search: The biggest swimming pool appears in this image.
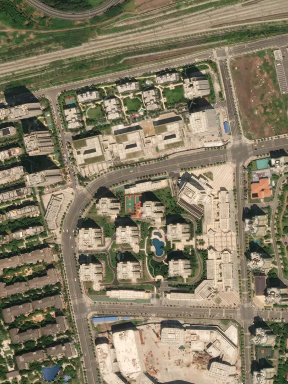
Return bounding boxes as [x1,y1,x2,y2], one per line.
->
[151,236,167,259]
